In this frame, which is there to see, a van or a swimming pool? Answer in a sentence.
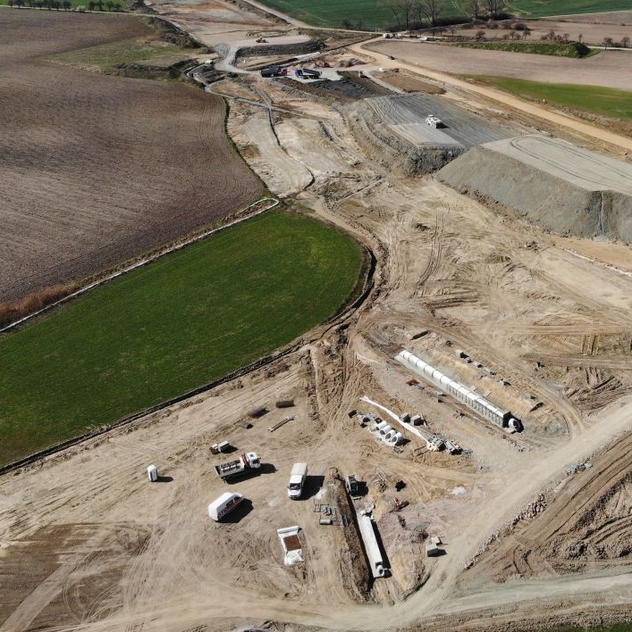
Of the two, only a van appears.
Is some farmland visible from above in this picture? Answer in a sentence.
Yes, farmland shows up in the scene.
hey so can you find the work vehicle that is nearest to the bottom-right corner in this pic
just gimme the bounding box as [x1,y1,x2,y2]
[346,471,361,494]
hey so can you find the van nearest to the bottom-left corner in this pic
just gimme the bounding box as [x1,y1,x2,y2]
[203,487,249,523]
